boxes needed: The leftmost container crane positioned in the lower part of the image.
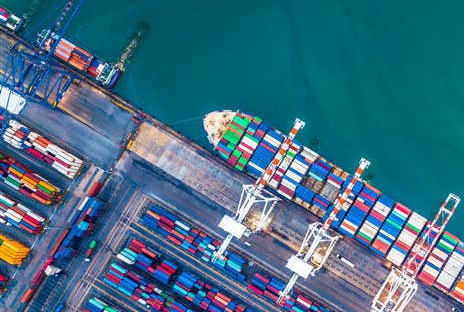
[212,120,304,263]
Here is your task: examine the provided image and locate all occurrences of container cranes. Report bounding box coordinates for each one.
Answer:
[277,159,369,301]
[367,191,462,312]
[0,0,87,134]
[212,120,304,263]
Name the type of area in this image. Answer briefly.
port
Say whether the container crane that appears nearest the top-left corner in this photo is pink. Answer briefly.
No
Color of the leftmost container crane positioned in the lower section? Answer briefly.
white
